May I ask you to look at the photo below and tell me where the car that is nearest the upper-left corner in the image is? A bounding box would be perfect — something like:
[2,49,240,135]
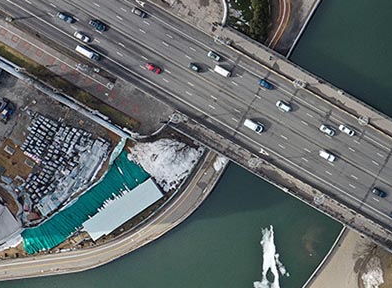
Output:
[58,11,75,24]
